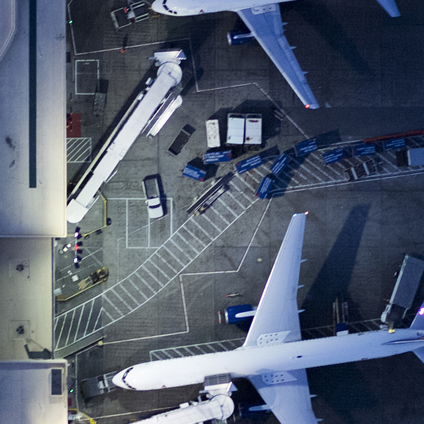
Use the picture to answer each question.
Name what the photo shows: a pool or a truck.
truck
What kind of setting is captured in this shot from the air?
airport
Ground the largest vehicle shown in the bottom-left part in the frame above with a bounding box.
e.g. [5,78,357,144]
[68,365,135,405]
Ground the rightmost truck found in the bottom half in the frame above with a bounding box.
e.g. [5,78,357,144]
[378,251,424,329]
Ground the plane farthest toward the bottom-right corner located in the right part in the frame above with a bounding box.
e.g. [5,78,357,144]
[112,211,424,424]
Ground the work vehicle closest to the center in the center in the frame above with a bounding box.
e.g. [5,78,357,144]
[189,174,231,214]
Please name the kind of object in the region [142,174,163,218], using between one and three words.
truck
